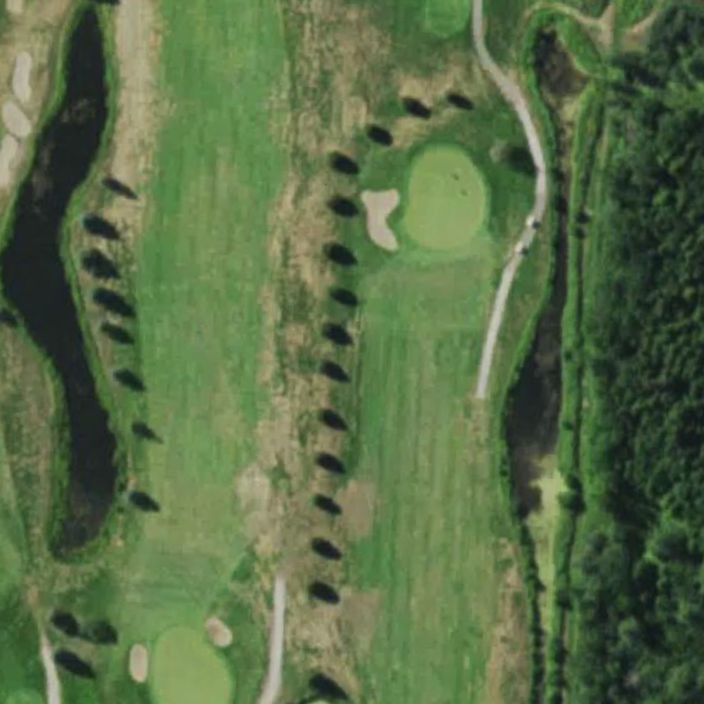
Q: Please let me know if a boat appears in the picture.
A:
No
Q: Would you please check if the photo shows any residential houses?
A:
No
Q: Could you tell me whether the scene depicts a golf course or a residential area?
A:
golf course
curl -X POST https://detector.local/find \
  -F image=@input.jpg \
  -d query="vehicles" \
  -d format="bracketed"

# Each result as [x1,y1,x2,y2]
[527,217,533,225]
[515,243,522,252]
